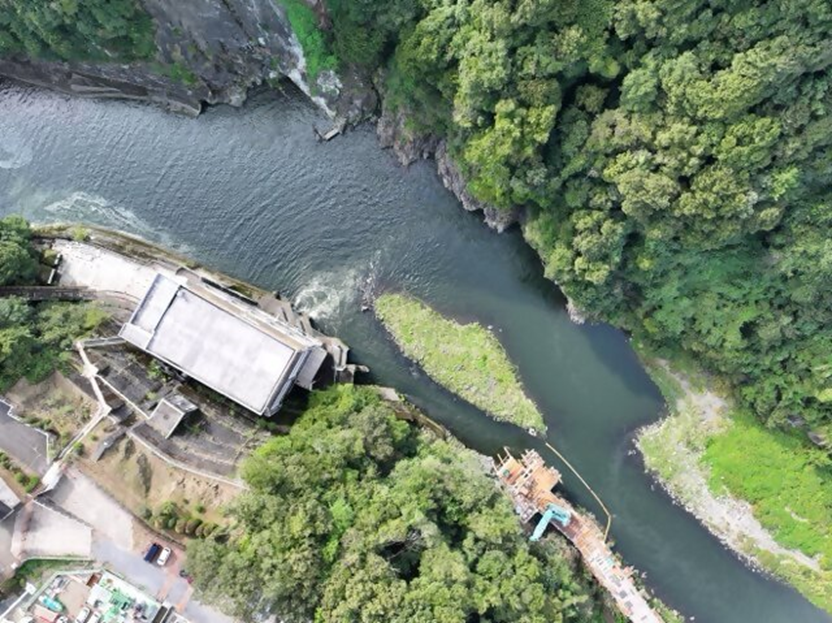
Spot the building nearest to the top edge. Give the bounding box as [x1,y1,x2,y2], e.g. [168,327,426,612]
[123,273,332,415]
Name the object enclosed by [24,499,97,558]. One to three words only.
building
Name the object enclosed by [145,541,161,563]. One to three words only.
car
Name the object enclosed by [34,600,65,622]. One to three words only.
shed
